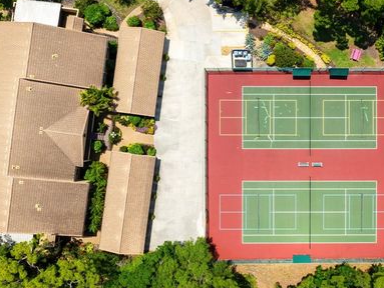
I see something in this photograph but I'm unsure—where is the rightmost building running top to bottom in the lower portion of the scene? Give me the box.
[99,151,157,256]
